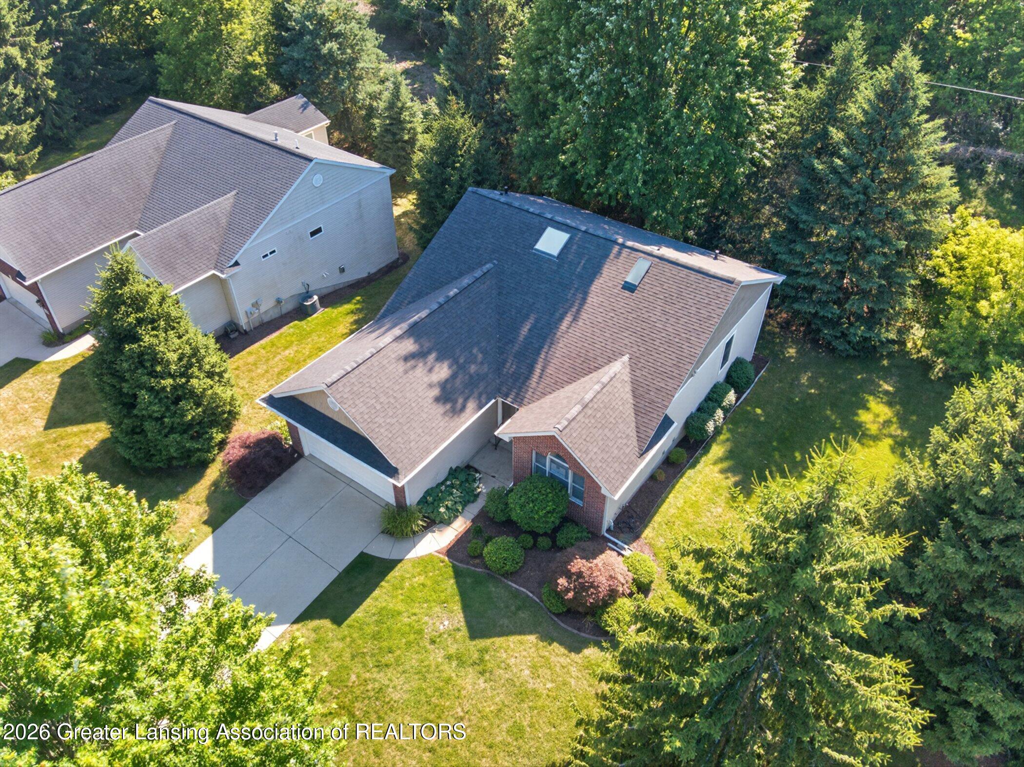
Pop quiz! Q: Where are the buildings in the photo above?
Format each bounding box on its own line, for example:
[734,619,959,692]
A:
[0,94,396,346]
[253,184,787,553]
